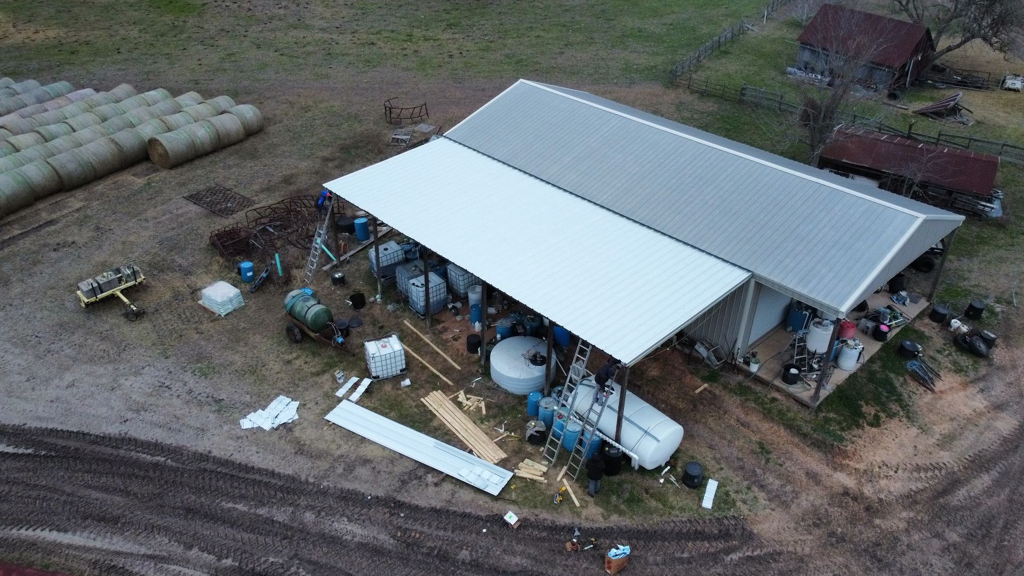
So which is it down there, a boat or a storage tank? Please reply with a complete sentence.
Looking from above, you can make out a storage tank.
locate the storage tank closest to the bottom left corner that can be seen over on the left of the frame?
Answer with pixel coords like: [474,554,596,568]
[280,286,332,326]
